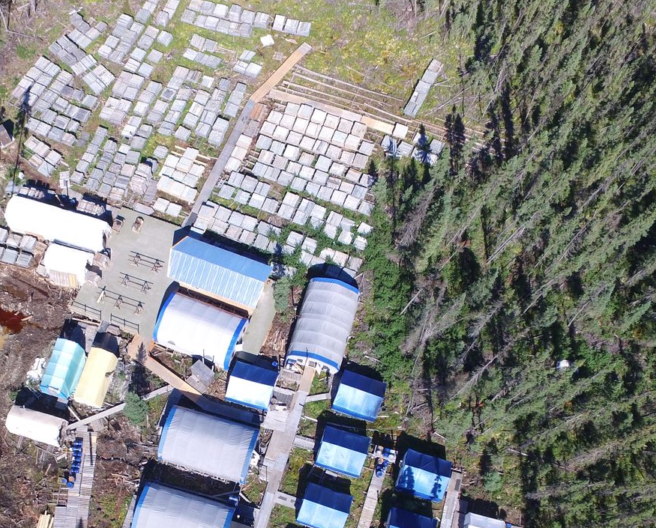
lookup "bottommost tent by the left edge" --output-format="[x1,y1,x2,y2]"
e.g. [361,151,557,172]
[5,405,70,448]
